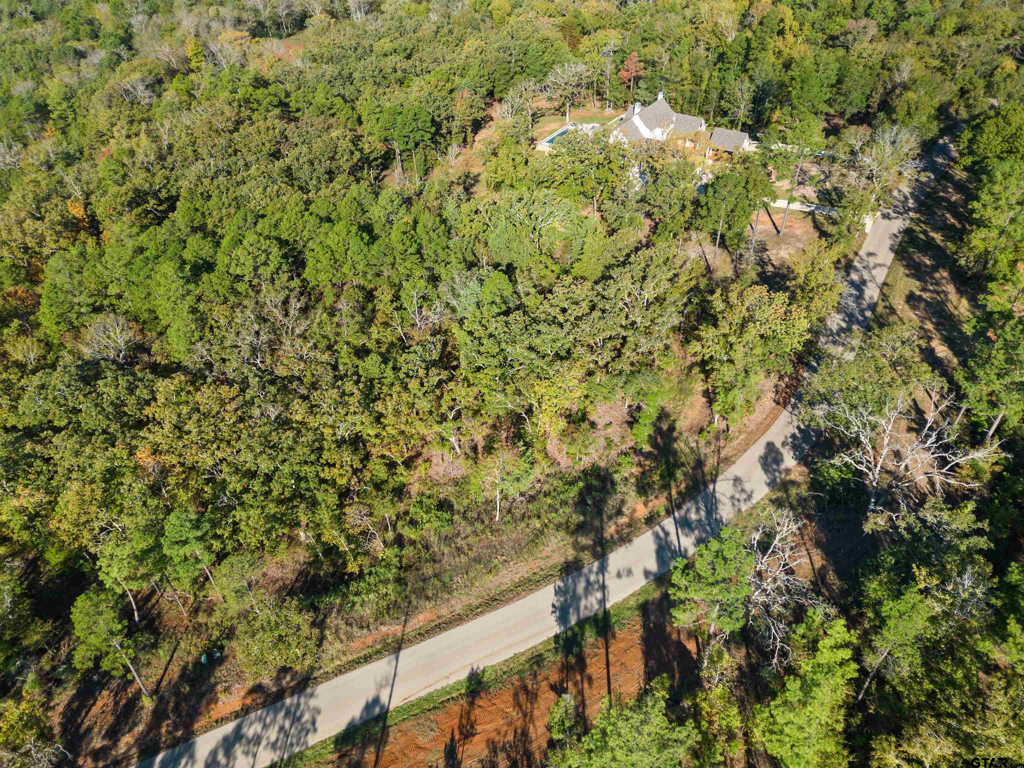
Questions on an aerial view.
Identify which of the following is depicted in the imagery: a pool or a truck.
pool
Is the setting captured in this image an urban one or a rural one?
rural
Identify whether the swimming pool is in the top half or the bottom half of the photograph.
top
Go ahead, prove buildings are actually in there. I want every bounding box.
[605,87,707,157]
[705,127,750,161]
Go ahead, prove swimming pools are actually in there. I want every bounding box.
[536,122,598,152]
